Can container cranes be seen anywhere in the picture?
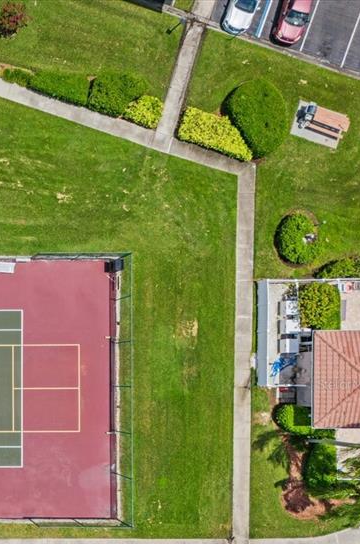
No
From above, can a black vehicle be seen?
No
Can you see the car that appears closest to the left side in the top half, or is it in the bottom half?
top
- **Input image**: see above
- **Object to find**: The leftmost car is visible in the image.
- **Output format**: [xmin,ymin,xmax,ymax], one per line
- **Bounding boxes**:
[220,0,259,35]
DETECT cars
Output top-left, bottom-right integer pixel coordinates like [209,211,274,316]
[220,0,259,35]
[273,0,317,48]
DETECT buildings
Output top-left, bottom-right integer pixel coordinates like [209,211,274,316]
[298,329,360,431]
